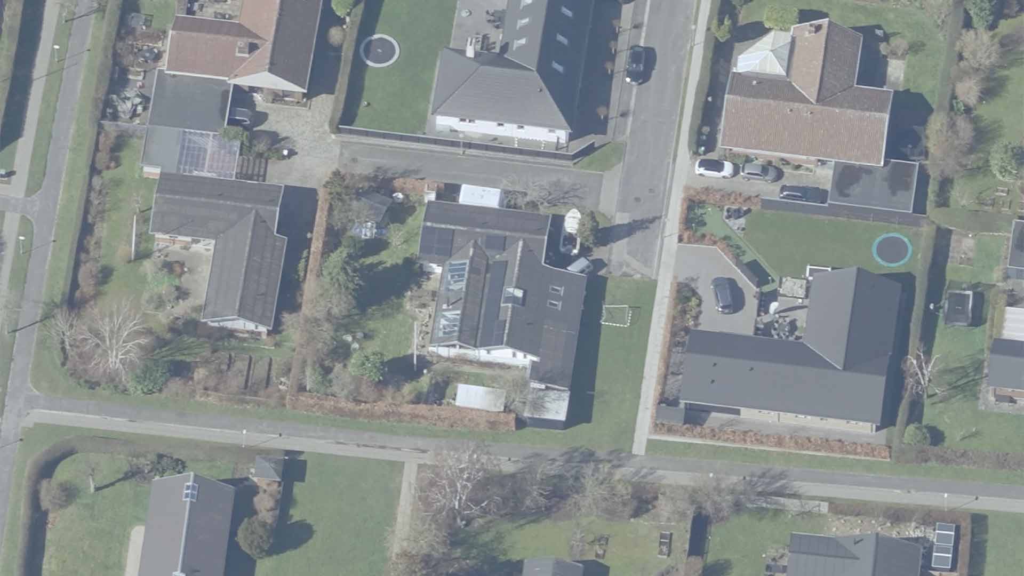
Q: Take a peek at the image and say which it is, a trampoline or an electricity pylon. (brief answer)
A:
trampoline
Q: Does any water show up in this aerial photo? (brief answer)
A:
No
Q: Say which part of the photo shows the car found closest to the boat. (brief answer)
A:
center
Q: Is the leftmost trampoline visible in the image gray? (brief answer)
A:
Yes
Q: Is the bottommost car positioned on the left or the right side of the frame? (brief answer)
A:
right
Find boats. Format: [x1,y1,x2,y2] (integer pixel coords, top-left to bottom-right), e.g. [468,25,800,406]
[561,208,580,256]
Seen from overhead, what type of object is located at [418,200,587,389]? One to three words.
house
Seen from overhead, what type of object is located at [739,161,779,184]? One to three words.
car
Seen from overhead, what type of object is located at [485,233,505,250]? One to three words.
solar panel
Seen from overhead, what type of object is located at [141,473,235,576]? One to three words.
house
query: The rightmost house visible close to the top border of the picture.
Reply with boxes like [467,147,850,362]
[720,18,893,170]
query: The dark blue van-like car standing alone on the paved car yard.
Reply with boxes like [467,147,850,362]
[712,279,736,315]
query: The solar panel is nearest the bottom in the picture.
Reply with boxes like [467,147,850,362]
[493,320,506,344]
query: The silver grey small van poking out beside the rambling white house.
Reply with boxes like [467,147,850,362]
[562,253,596,273]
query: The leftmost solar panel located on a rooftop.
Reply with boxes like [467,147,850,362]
[421,226,453,257]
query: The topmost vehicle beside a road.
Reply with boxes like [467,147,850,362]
[627,46,648,83]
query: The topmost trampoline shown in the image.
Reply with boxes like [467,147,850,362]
[360,35,399,67]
